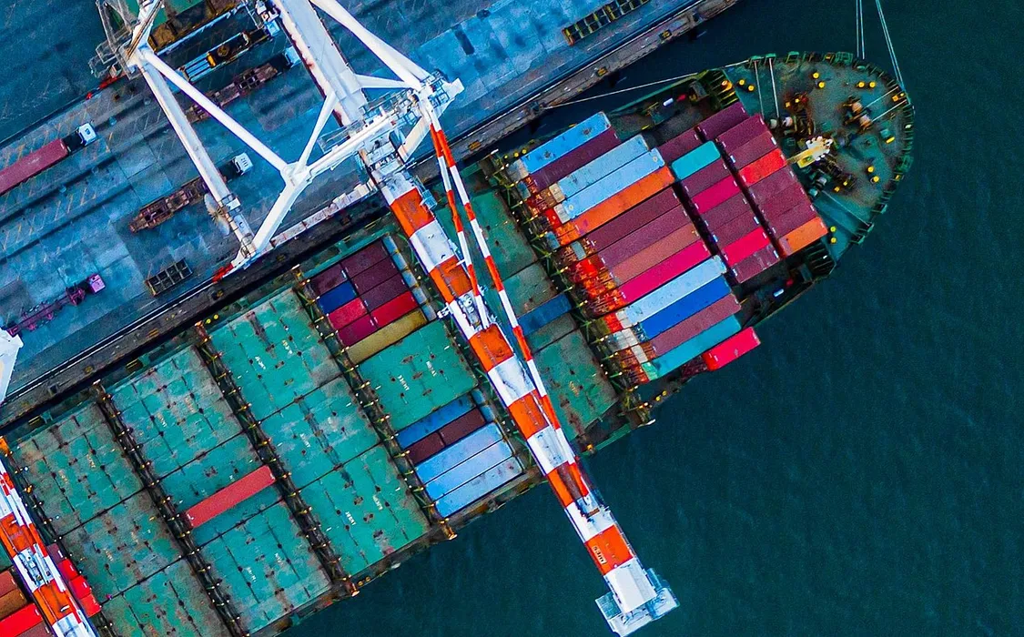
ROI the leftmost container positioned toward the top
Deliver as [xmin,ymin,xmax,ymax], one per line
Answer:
[0,139,71,197]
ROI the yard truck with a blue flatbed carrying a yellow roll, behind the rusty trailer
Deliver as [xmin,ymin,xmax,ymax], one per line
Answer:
[178,17,284,81]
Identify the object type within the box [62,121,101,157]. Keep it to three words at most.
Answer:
truck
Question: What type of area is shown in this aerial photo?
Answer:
port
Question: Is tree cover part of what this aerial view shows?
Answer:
No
